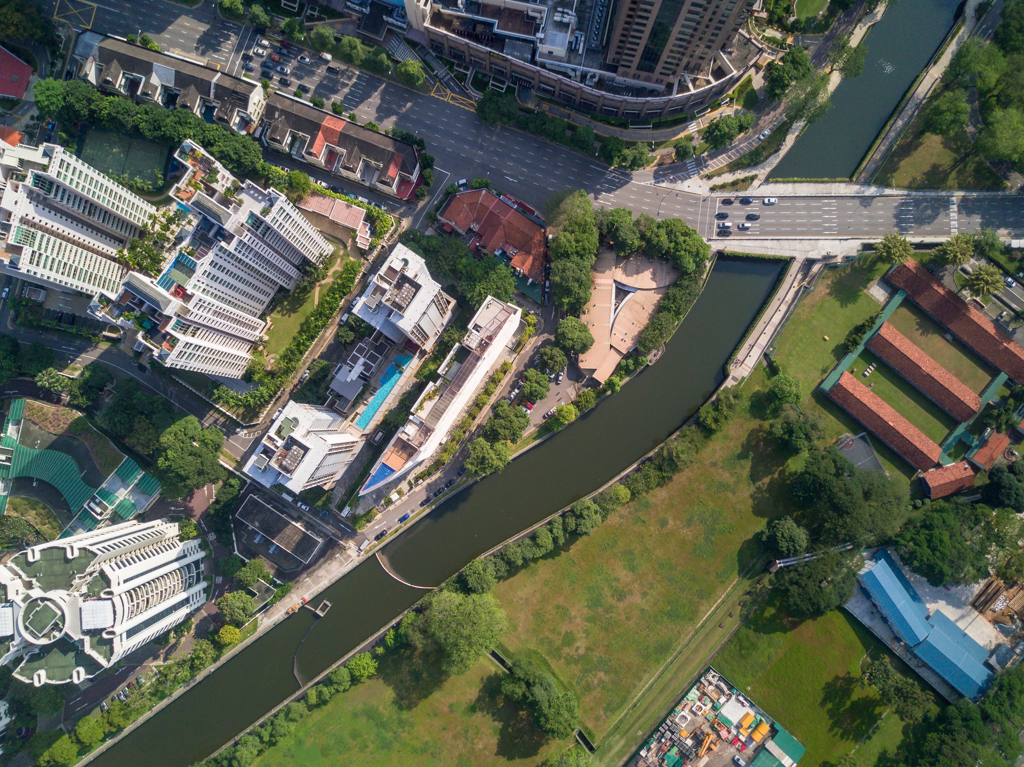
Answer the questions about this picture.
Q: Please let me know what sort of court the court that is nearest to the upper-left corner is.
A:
tennis court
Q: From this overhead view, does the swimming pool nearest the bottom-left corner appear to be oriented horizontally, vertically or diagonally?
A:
diagonally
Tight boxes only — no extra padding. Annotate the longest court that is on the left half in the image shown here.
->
[81,128,172,181]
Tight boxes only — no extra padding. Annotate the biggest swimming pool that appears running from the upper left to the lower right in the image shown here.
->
[176,261,196,278]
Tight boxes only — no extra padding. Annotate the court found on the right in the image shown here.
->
[841,433,891,480]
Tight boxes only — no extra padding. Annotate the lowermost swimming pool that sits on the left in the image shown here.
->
[362,464,395,492]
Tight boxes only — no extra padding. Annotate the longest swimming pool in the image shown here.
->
[354,353,416,434]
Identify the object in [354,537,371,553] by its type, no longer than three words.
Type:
vehicle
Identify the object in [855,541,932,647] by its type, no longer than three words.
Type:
shed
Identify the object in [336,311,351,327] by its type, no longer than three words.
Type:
vehicle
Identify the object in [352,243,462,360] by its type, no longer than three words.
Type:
building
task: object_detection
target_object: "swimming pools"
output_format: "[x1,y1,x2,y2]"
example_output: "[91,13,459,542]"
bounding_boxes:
[159,252,179,277]
[362,464,395,492]
[176,261,196,278]
[354,353,416,434]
